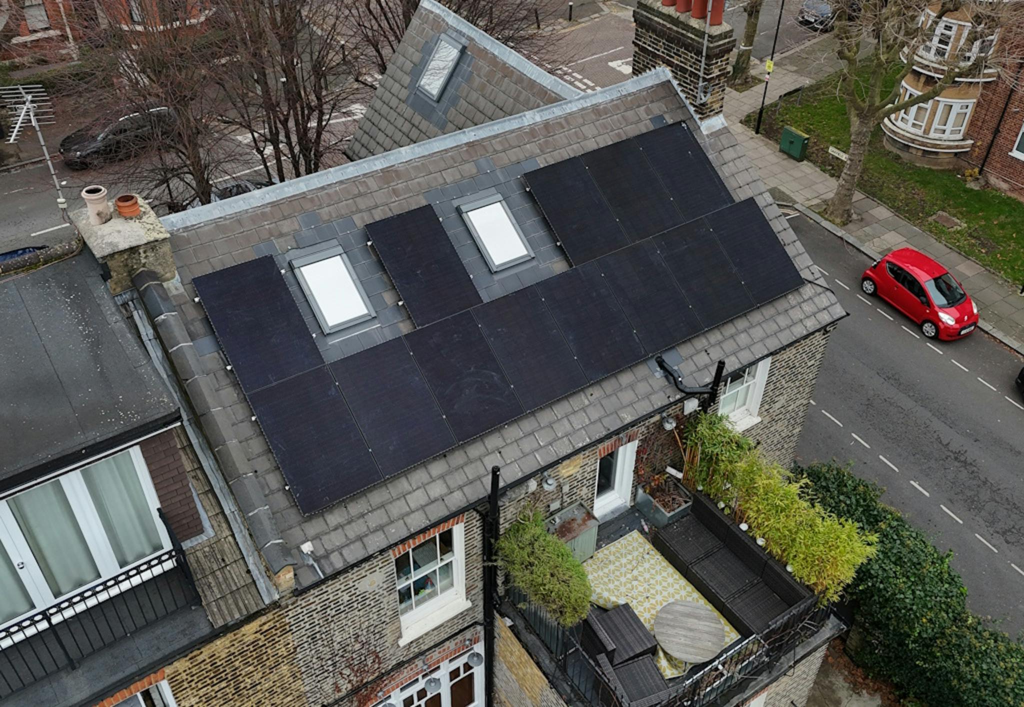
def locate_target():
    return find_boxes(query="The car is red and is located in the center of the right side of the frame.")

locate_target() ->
[861,243,986,340]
